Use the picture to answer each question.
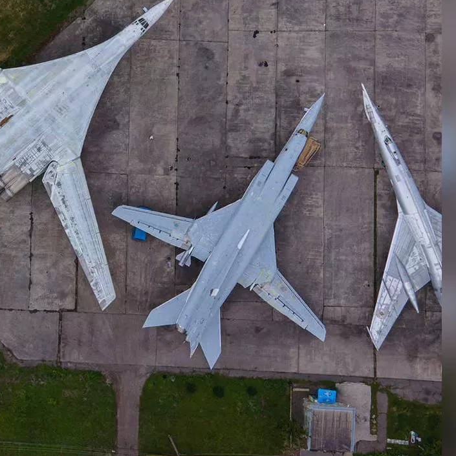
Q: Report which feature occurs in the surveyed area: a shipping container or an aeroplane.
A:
aeroplane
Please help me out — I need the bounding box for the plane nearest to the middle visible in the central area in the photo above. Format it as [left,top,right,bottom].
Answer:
[112,90,329,369]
